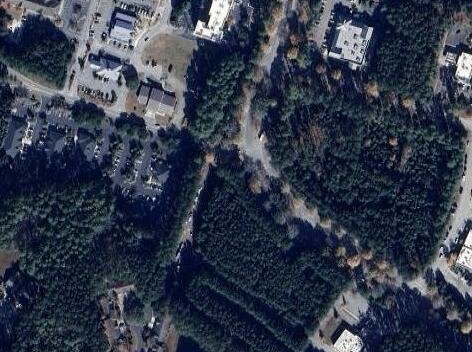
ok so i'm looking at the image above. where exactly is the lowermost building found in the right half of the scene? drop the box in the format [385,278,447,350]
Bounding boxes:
[334,330,364,352]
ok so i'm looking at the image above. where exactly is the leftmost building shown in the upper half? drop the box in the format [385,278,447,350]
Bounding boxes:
[2,118,27,155]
